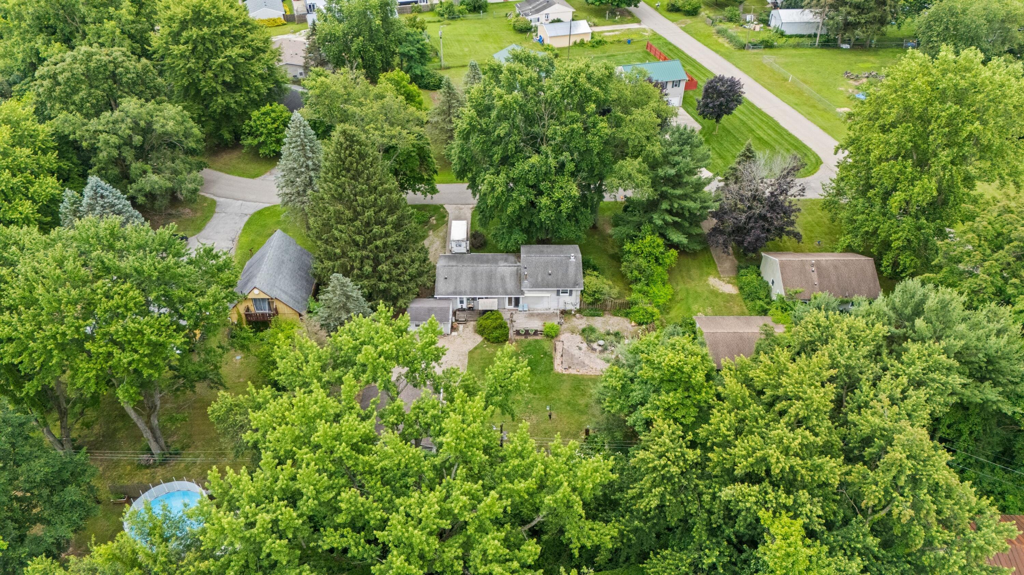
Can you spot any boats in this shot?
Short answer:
No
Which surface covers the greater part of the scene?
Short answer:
trees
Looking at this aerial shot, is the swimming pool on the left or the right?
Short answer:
left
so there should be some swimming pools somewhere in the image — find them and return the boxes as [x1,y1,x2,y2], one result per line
[120,478,213,563]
